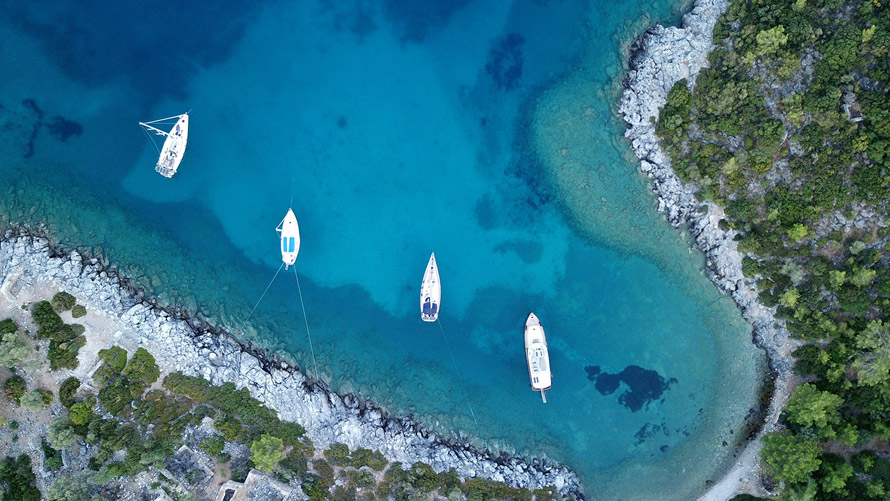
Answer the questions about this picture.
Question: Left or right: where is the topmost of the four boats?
left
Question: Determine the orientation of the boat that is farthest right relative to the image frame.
up and down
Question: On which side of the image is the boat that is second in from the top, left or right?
left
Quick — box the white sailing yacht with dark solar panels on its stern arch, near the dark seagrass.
[144,110,188,179]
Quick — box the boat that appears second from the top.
[275,207,298,270]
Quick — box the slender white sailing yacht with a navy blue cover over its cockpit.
[420,250,442,324]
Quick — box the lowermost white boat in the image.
[526,311,554,401]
